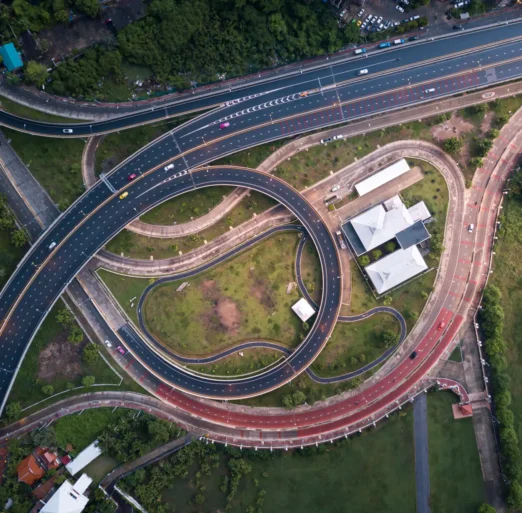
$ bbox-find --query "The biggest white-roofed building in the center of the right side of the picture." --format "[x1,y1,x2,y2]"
[341,194,431,255]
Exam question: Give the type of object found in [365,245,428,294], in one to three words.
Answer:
building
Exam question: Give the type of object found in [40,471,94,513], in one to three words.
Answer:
building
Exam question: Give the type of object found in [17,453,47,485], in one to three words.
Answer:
house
